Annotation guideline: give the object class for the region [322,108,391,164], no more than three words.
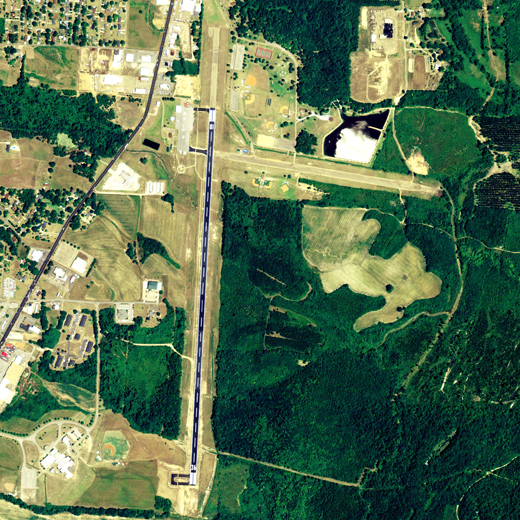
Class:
pond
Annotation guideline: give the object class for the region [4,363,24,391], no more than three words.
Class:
building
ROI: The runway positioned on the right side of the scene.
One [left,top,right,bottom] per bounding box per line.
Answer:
[213,151,441,193]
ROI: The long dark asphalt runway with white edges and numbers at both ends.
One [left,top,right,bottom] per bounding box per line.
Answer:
[190,108,215,486]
